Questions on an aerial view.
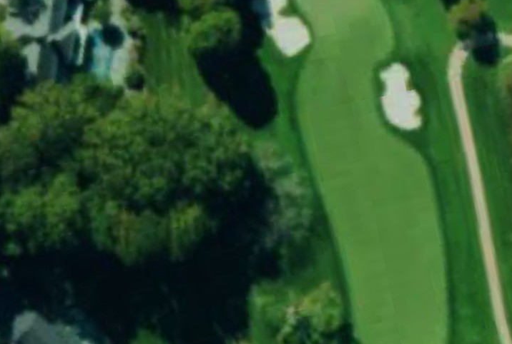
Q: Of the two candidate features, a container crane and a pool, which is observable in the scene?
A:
pool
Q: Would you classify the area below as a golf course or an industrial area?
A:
golf course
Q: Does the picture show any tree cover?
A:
Yes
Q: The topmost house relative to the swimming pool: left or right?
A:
left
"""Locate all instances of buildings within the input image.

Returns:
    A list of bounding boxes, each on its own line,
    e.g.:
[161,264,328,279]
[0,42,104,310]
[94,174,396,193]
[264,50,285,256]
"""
[21,0,88,76]
[0,307,76,344]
